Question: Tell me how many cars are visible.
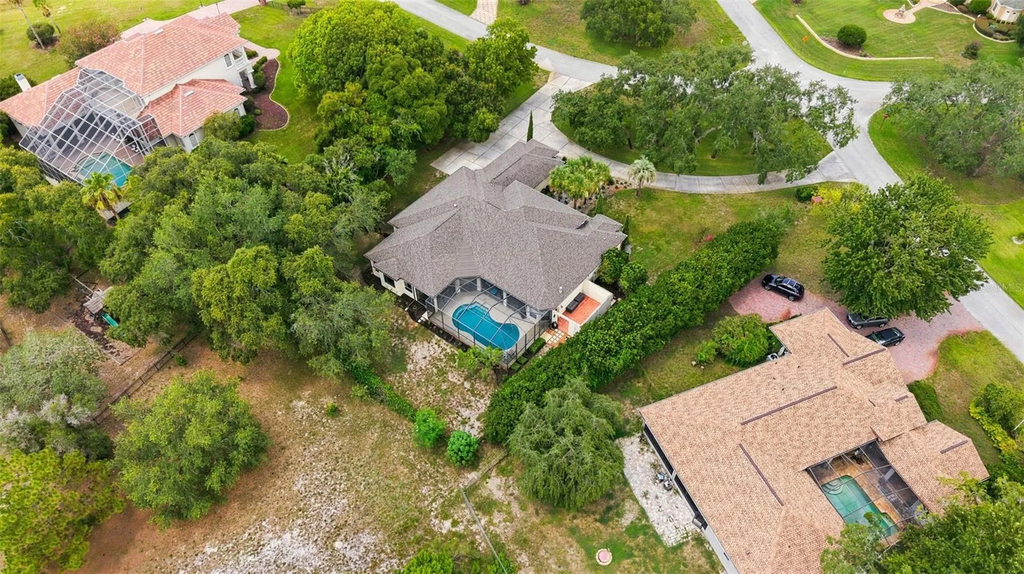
3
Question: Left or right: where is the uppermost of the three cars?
right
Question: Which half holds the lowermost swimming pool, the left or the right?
right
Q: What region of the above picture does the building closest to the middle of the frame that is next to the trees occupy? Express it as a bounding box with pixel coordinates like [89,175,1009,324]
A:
[365,138,629,323]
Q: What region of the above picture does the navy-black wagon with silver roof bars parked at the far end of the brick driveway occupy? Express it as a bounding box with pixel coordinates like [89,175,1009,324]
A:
[762,274,806,301]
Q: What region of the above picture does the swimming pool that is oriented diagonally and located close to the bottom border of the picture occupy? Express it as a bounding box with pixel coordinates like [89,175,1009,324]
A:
[819,473,902,556]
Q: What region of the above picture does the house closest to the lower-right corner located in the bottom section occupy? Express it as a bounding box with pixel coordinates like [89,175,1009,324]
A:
[639,306,987,574]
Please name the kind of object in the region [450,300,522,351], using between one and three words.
swimming pool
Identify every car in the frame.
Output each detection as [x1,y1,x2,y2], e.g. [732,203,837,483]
[862,325,905,347]
[762,274,806,301]
[847,308,891,329]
